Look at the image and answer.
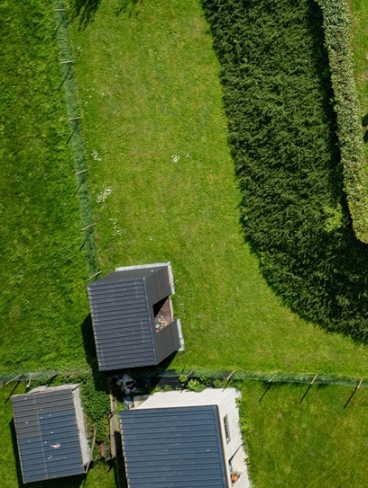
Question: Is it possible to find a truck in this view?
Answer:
No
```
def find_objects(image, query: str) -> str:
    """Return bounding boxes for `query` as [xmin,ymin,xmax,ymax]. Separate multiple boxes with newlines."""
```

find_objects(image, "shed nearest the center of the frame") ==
[87,267,186,370]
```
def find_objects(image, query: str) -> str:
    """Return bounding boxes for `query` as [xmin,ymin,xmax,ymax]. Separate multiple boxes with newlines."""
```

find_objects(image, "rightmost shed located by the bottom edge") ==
[120,390,251,488]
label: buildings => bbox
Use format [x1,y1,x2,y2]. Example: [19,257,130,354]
[87,267,186,370]
[10,383,97,483]
[120,390,251,488]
